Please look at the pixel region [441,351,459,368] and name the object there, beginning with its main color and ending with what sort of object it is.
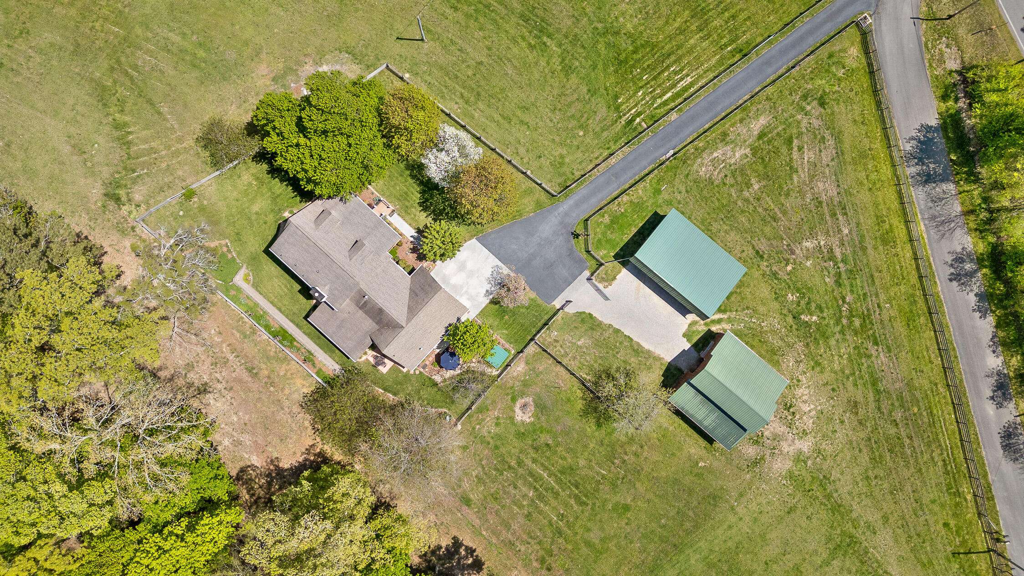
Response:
blue umbrella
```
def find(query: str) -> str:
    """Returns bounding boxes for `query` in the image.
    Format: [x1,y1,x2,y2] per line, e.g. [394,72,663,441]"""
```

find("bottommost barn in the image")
[668,330,789,451]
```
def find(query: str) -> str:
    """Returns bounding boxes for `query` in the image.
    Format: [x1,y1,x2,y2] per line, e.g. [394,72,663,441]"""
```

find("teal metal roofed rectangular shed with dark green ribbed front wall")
[629,208,747,319]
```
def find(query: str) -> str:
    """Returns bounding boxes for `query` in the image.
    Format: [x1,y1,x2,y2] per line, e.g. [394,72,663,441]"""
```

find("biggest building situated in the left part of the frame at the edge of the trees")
[269,180,469,372]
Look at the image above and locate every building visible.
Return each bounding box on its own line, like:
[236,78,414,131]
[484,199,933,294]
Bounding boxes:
[629,208,747,319]
[668,330,789,451]
[269,180,469,372]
